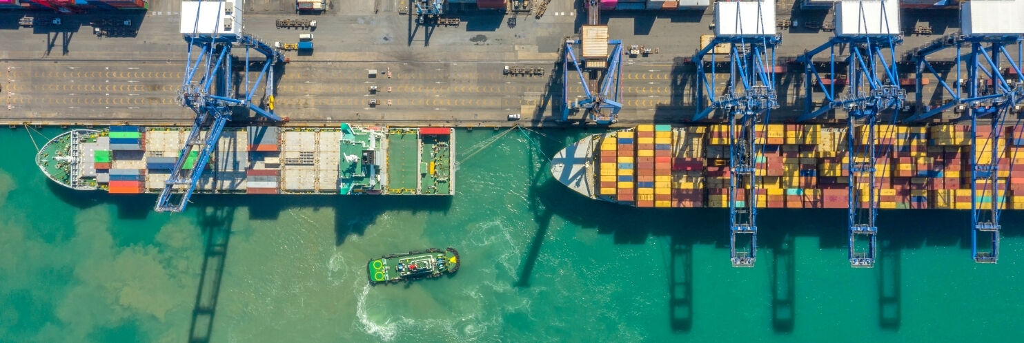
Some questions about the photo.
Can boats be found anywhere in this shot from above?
Yes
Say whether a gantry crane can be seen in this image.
Yes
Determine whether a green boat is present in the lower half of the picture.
Yes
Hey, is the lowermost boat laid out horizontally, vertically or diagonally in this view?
horizontally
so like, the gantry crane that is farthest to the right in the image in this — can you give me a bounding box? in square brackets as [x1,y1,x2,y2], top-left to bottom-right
[888,0,1024,266]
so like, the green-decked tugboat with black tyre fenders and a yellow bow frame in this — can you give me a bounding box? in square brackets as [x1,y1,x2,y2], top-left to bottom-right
[367,249,458,286]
